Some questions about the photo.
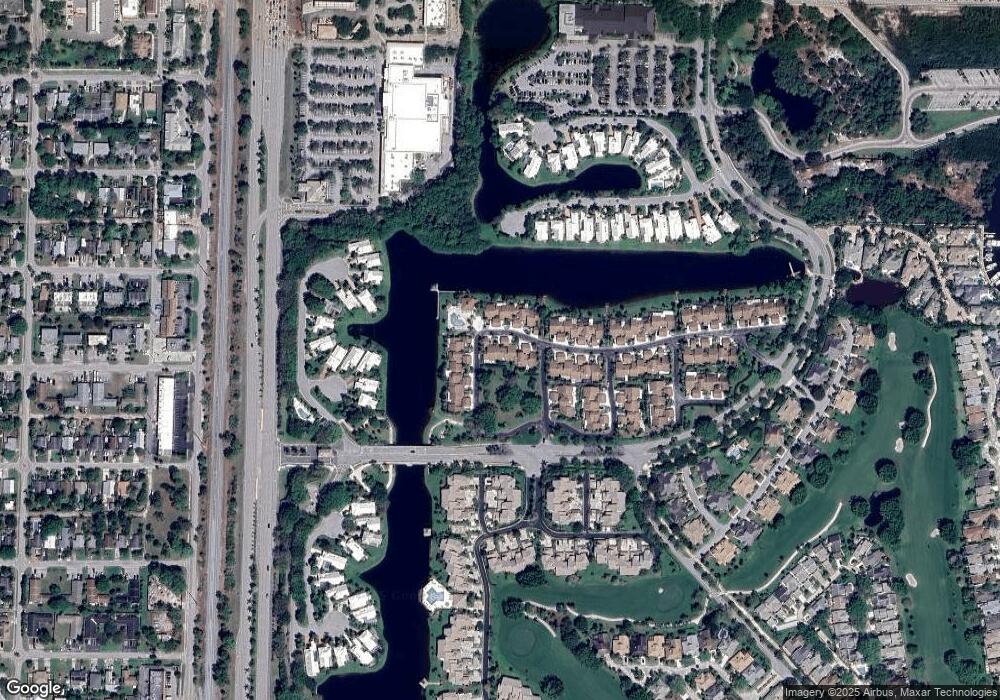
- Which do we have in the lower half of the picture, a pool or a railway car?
pool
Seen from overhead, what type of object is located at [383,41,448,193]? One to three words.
building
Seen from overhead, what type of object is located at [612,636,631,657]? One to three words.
house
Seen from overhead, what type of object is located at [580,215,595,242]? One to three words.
house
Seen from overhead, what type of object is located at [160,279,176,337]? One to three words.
building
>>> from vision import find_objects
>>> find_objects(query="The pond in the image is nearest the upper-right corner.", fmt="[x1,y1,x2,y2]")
[750,54,814,132]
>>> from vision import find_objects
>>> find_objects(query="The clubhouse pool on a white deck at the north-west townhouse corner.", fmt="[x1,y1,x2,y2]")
[448,305,483,331]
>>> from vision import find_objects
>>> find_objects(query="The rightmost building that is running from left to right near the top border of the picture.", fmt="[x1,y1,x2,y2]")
[559,3,656,46]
